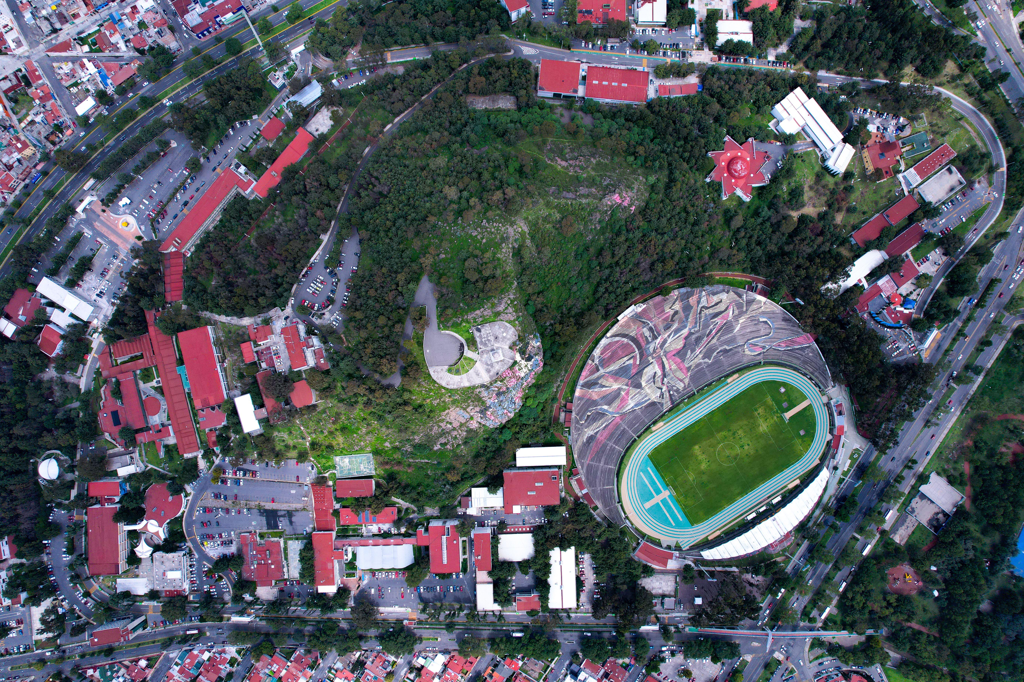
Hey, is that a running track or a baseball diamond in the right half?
running track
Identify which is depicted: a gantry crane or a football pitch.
football pitch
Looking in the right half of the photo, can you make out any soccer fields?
Yes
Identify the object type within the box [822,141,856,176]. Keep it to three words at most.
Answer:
building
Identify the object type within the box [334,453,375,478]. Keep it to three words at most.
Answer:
basketball court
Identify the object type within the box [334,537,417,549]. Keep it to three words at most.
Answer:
building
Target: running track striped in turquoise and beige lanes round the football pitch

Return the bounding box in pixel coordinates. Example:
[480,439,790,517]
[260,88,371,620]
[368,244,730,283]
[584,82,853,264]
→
[621,369,829,540]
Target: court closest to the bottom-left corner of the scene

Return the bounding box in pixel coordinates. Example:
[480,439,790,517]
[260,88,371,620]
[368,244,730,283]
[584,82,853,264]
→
[288,540,307,578]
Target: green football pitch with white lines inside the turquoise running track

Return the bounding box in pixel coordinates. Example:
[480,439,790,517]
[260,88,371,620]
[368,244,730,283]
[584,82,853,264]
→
[638,380,817,529]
